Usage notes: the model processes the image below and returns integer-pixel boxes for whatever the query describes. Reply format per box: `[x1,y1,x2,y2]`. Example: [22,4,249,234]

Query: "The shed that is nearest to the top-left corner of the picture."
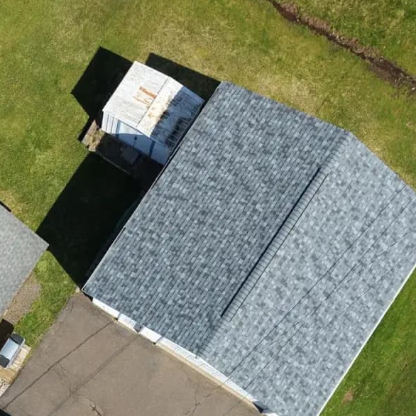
[101,62,200,166]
